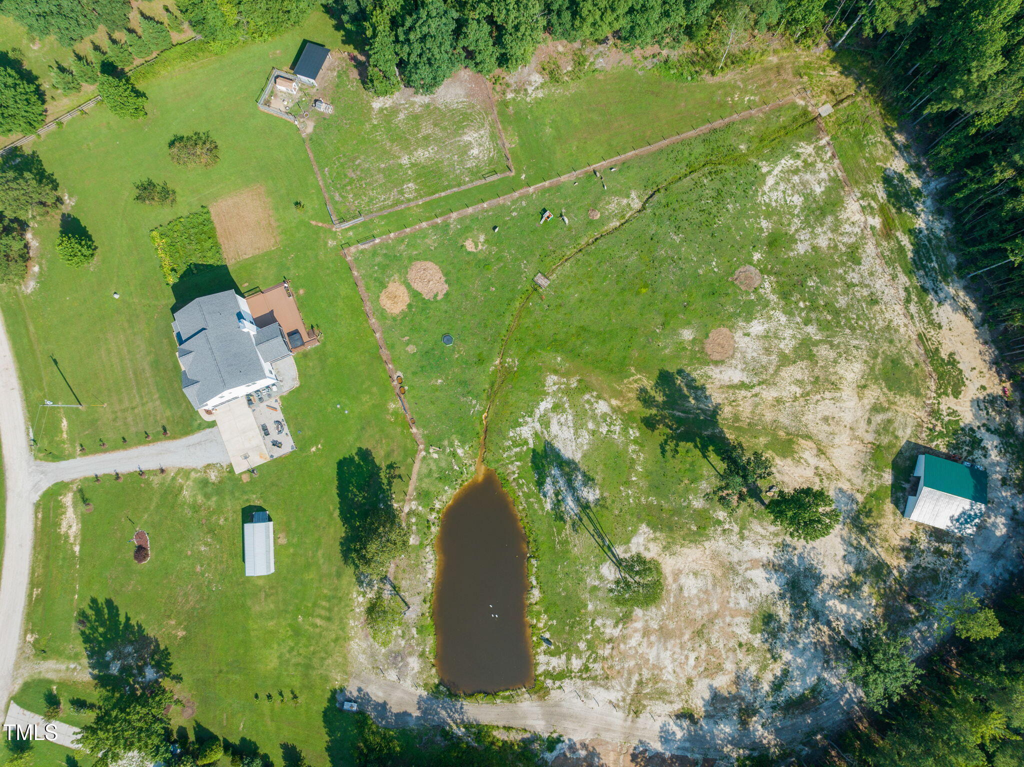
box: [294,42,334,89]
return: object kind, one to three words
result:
shed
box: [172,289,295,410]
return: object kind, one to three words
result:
house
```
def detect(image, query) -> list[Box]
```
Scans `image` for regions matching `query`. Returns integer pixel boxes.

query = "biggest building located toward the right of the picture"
[902,454,989,538]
